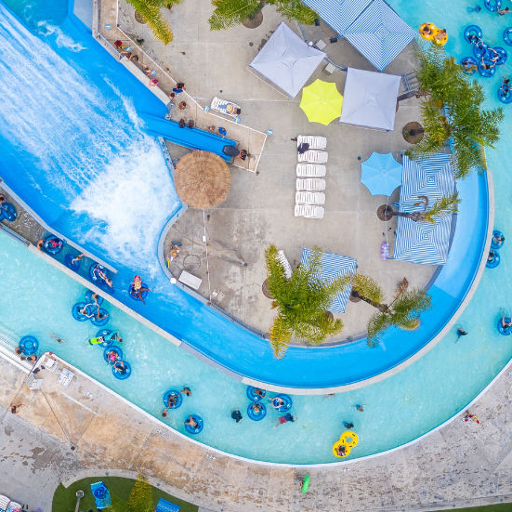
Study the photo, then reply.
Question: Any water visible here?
Yes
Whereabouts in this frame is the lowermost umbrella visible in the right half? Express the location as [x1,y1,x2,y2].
[359,151,401,193]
